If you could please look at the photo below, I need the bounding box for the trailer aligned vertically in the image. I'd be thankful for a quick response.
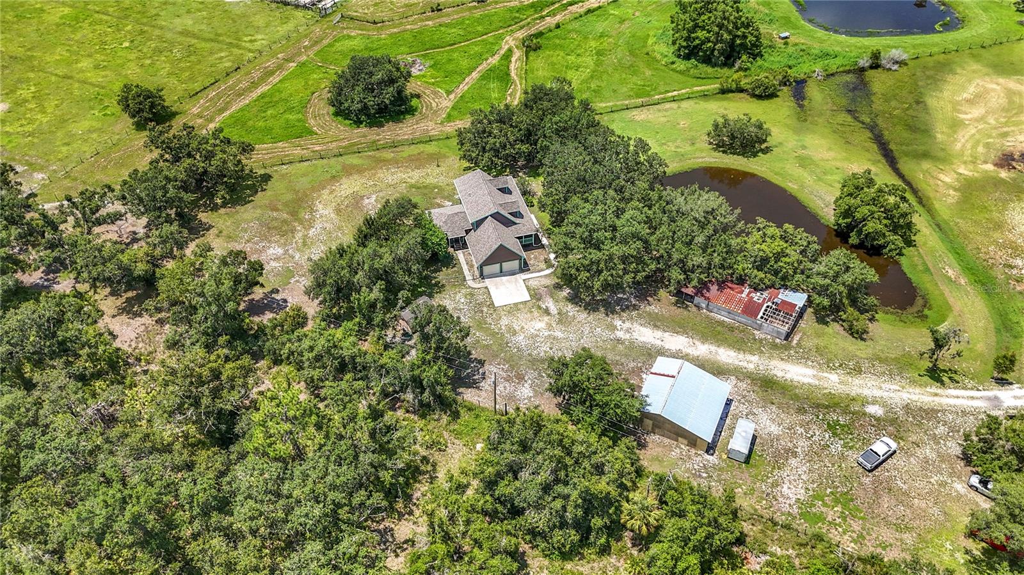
[726,417,754,463]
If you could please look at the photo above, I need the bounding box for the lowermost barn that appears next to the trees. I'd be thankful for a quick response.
[640,358,730,453]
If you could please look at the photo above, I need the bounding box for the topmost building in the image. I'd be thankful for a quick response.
[425,169,545,277]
